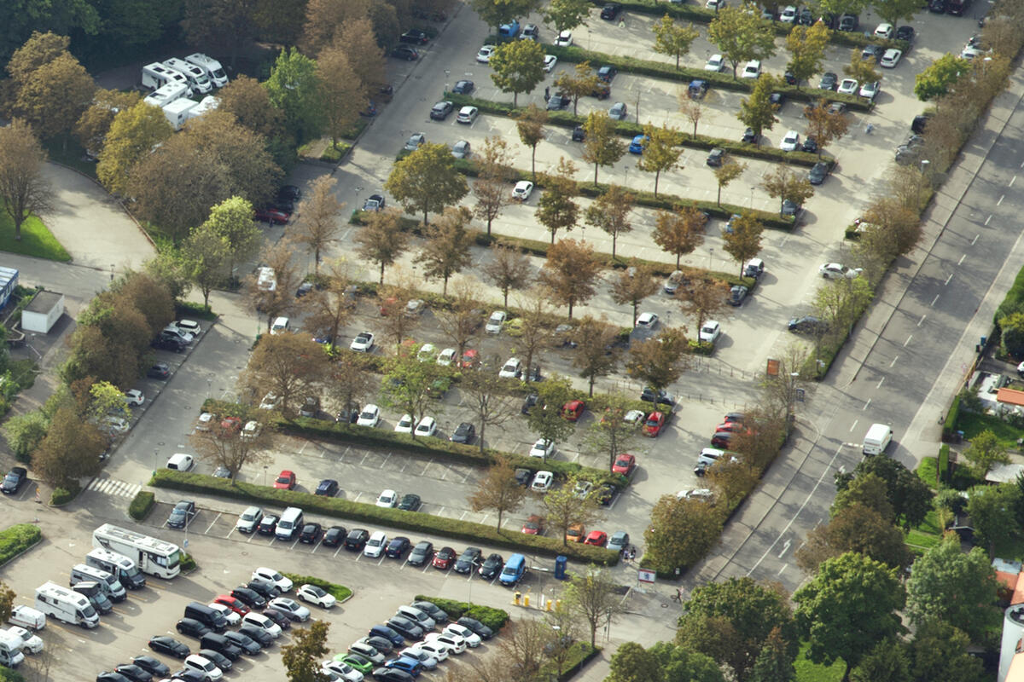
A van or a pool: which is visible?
van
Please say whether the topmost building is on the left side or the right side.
left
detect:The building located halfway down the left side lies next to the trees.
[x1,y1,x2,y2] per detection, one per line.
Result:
[19,287,64,333]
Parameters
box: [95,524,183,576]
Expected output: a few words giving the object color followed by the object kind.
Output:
white vehicle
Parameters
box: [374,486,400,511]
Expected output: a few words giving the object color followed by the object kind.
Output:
white car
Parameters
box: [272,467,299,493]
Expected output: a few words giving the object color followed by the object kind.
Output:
red car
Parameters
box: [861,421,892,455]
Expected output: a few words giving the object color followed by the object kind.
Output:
white van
